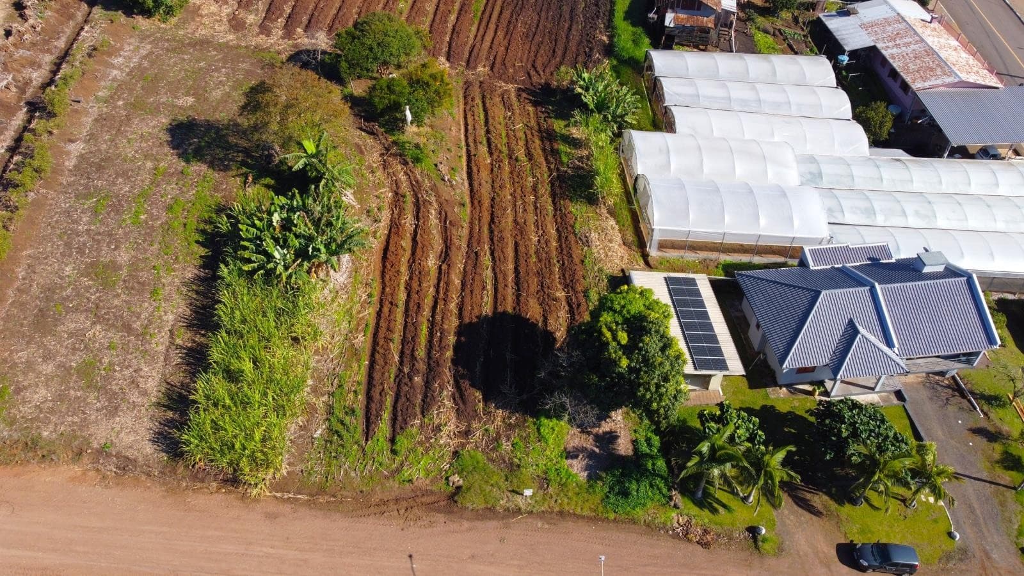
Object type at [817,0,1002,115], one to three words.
house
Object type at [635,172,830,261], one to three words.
greenhouse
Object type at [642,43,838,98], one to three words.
greenhouse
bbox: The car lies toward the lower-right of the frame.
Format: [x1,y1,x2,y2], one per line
[852,537,924,576]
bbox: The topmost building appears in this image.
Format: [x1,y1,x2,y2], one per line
[648,0,738,45]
